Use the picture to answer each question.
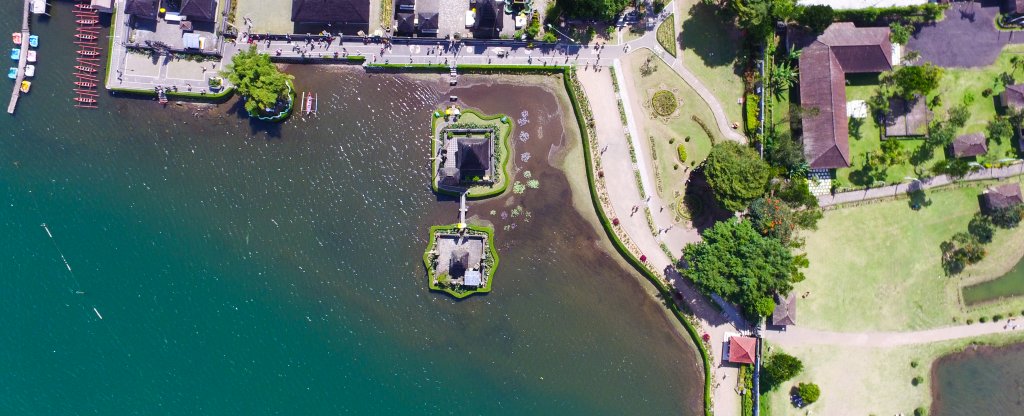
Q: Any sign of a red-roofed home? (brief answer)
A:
Yes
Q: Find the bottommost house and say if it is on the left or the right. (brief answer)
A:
right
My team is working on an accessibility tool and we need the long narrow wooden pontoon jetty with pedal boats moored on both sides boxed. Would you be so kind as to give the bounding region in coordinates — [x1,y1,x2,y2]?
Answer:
[6,0,29,112]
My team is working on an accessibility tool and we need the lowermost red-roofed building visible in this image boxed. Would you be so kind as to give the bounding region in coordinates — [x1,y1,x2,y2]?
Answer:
[728,336,756,363]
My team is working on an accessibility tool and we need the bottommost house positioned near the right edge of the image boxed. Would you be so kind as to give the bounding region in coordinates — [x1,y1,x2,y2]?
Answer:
[976,184,1024,217]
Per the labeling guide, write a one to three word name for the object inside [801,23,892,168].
house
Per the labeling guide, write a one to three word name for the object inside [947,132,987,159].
house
